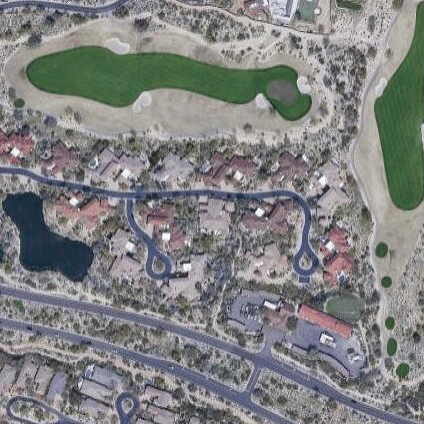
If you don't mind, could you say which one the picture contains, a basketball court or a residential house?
residential house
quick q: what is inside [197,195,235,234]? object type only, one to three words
house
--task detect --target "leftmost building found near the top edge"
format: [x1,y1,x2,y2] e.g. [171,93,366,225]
[244,0,270,20]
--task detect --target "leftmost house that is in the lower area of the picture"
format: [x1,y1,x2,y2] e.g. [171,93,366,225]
[0,362,17,394]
